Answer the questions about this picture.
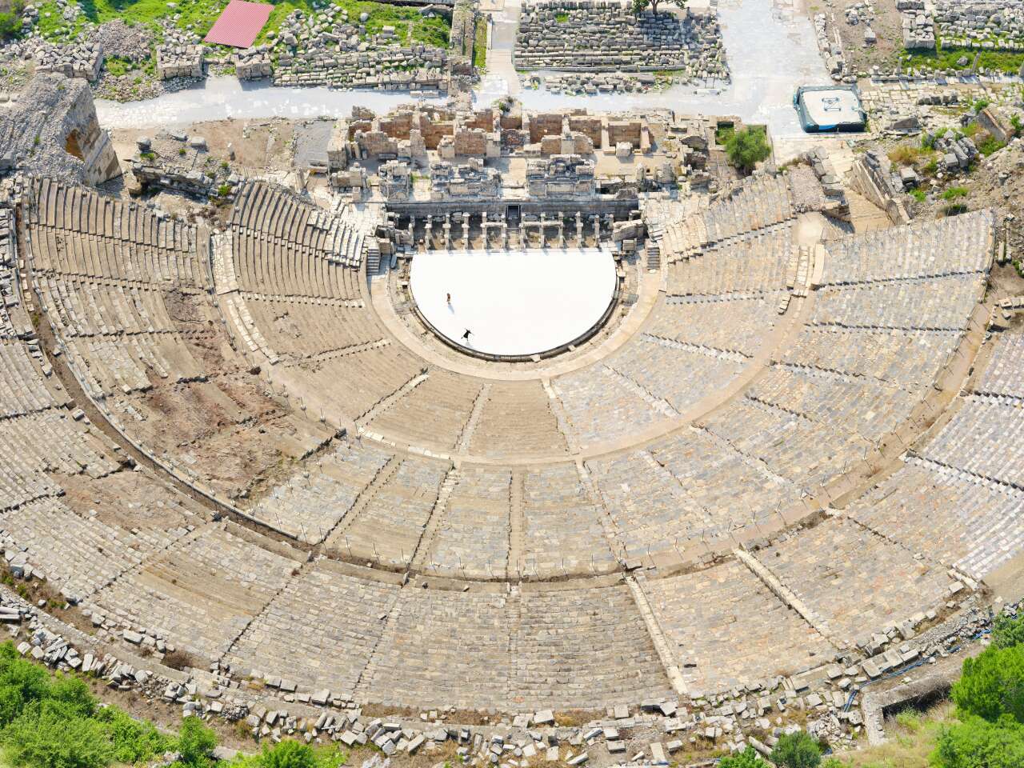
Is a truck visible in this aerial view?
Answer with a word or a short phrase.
No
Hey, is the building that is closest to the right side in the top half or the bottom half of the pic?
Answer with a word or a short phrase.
top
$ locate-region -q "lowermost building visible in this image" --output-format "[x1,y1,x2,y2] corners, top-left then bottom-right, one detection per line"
[327,100,701,168]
